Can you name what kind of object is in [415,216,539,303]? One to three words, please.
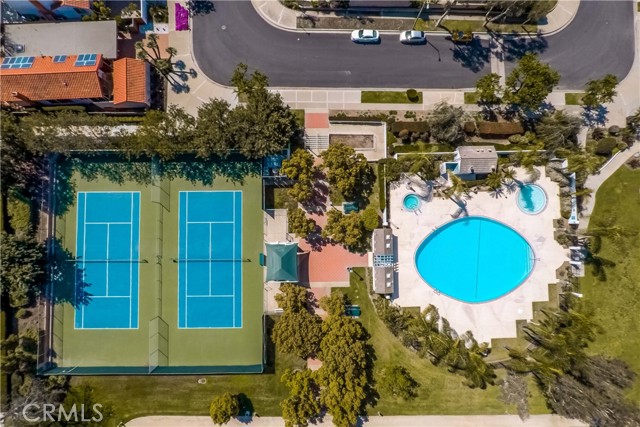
swimming pool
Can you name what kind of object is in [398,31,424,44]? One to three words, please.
vehicle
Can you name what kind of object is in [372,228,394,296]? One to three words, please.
building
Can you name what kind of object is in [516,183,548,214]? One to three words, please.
swimming pool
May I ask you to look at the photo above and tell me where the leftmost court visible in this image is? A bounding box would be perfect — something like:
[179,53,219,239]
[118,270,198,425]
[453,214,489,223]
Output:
[50,153,160,366]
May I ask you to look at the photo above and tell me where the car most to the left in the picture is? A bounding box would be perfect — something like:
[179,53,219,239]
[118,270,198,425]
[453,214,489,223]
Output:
[351,31,378,44]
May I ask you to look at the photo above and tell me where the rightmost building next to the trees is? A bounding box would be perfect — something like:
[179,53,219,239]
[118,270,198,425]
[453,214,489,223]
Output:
[456,147,501,173]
